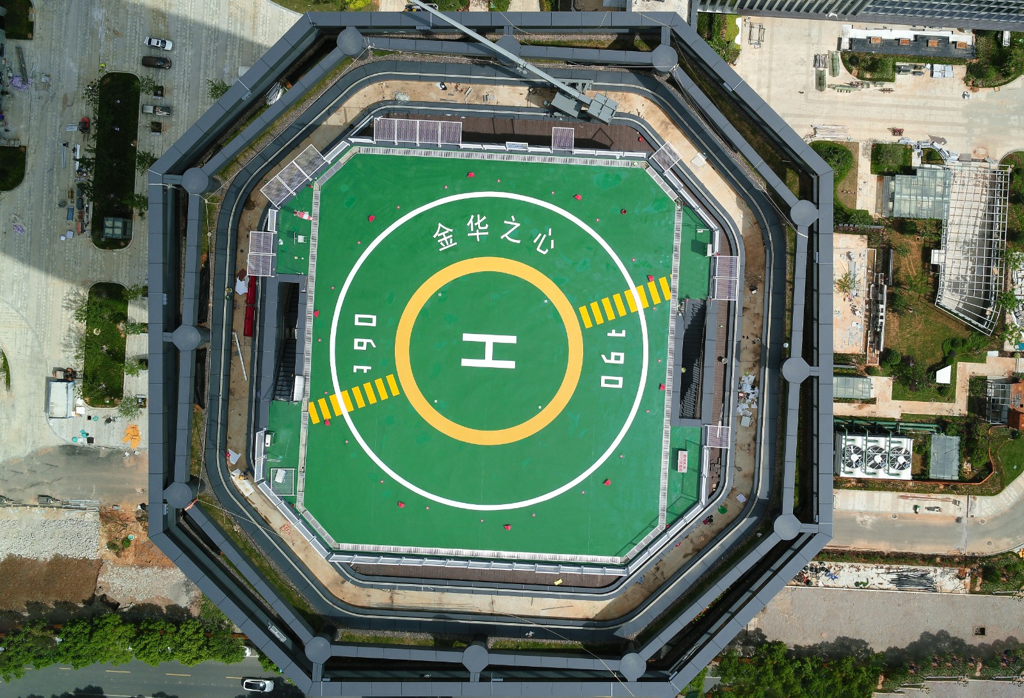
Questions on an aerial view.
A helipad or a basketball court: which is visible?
helipad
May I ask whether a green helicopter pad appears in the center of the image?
Yes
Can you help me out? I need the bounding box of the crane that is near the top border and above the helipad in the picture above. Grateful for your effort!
[407,0,618,126]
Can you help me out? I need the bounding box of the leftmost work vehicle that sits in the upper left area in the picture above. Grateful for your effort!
[77,116,89,136]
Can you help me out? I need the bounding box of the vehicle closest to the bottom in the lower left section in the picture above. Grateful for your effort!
[245,677,276,692]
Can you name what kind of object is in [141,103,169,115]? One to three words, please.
vehicle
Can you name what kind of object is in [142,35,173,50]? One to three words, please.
car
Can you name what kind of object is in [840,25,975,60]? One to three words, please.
building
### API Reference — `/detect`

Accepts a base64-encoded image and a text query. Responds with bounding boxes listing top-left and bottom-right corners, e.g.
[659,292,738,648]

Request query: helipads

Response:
[246,117,738,579]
